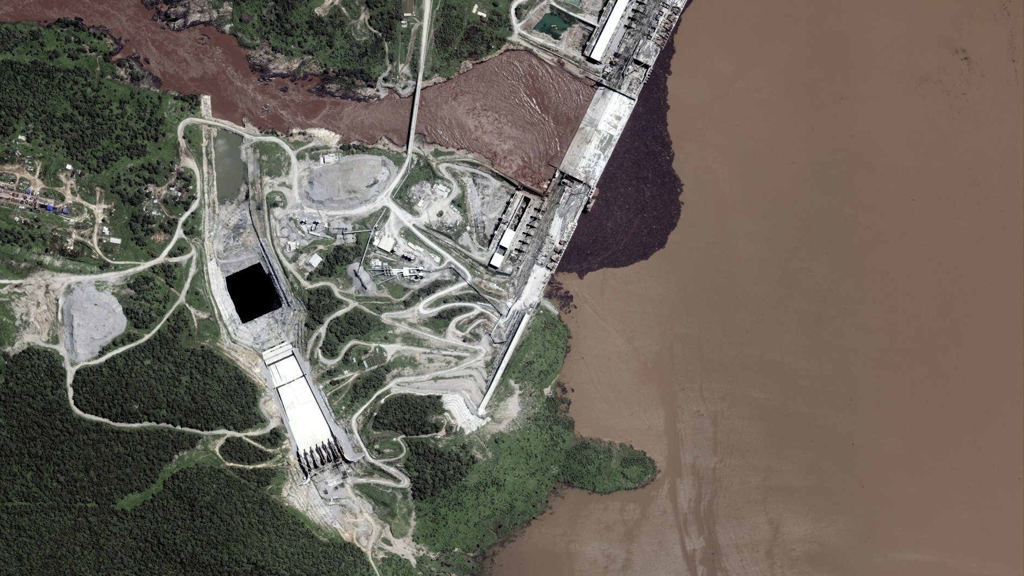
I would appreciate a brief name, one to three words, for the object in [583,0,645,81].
building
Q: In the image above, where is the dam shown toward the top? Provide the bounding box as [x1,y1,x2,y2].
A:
[475,0,689,415]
